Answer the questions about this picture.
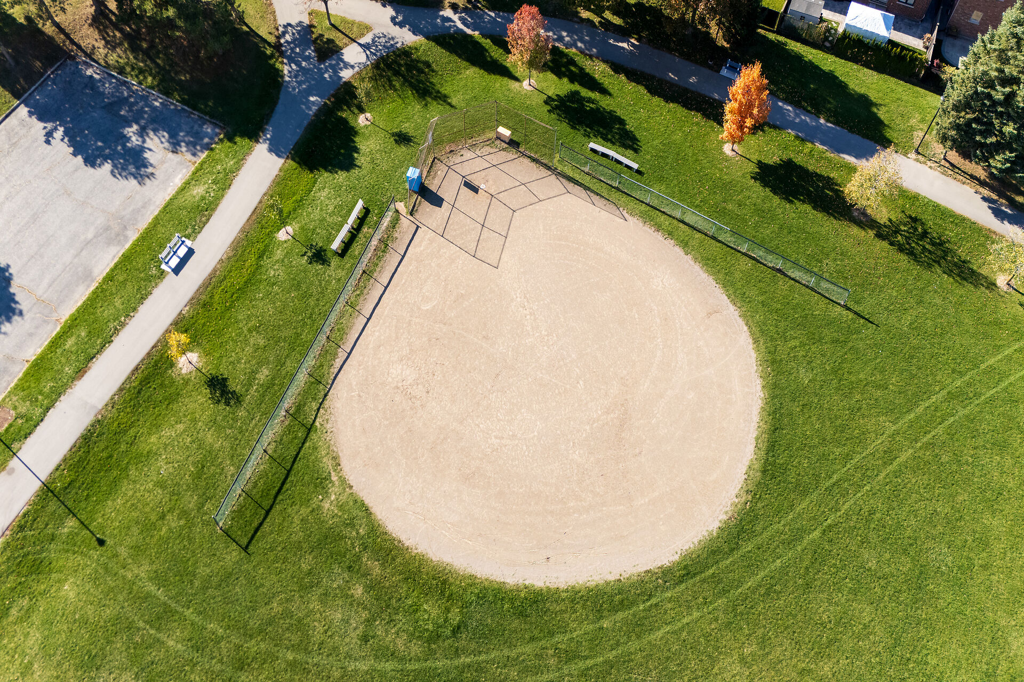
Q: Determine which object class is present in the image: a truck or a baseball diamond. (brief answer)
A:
baseball diamond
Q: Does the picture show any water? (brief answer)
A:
No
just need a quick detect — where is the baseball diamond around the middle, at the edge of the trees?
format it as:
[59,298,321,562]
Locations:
[325,143,764,588]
